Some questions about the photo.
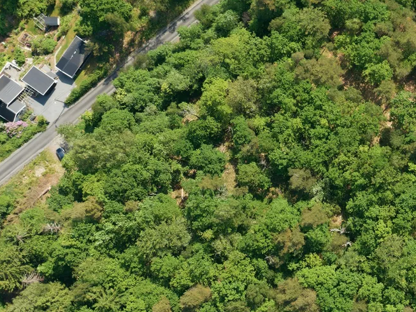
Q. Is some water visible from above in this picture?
No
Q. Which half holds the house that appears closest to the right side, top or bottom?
top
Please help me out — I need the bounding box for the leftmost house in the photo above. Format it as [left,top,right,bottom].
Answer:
[0,74,31,122]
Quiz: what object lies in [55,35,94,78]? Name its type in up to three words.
house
